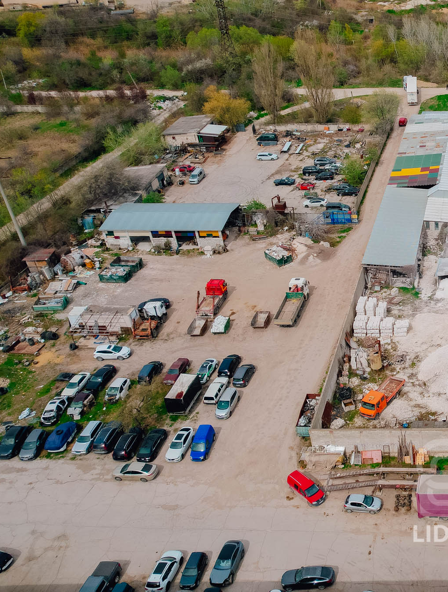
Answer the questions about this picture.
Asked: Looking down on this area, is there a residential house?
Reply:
Yes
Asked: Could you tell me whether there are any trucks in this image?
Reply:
Yes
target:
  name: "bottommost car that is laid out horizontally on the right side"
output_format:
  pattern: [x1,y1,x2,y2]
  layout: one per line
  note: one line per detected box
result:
[279,565,337,592]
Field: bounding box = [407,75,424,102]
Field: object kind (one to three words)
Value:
vehicle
